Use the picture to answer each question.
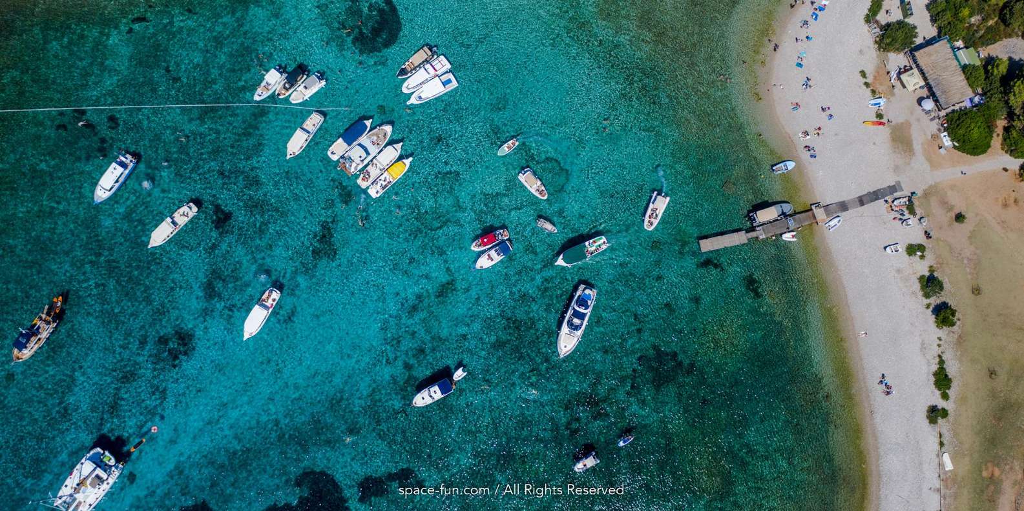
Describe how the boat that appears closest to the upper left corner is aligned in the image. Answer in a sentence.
The boat that appears closest to the upper left corner runs on a diagonal in the image.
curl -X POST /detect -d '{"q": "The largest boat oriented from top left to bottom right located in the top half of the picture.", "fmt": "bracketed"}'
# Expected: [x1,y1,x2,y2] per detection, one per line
[521,166,547,198]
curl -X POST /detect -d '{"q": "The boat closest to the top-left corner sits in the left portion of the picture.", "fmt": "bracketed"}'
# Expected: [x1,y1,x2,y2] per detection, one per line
[92,151,138,204]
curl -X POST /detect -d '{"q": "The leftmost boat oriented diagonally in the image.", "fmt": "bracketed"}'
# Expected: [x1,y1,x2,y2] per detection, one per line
[7,305,58,366]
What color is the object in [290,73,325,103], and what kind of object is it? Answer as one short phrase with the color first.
white boat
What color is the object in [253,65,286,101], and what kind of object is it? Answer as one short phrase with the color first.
white boat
